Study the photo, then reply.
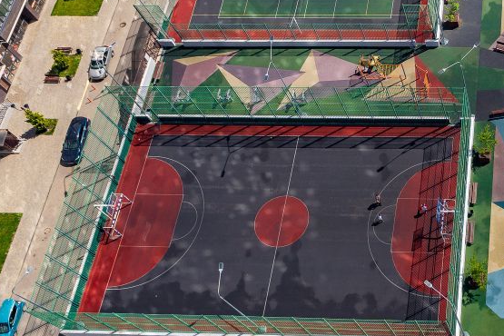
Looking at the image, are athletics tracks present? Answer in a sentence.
No, no athletics track is visible in the view.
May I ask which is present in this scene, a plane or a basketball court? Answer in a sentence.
Looking from above, you can make out a basketball court.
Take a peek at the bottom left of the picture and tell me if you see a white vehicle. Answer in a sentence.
No, no white vehicle can be made out at the bottom left of the picture.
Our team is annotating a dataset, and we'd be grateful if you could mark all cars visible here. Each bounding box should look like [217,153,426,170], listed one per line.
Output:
[86,45,115,83]
[61,119,91,165]
[0,300,28,336]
